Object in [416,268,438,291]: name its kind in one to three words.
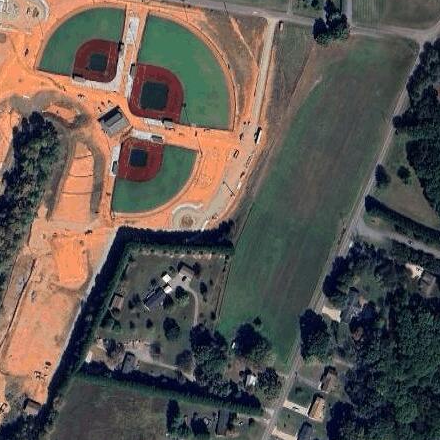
house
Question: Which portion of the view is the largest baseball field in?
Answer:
top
